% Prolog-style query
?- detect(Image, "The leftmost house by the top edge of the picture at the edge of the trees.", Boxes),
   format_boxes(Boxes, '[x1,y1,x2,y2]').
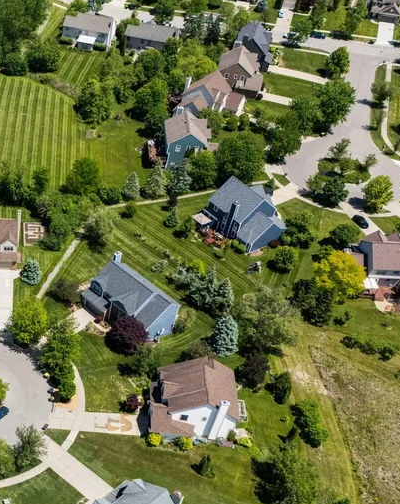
[72,12,115,54]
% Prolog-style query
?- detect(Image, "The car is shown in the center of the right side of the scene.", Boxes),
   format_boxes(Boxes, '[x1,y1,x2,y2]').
[351,215,371,229]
